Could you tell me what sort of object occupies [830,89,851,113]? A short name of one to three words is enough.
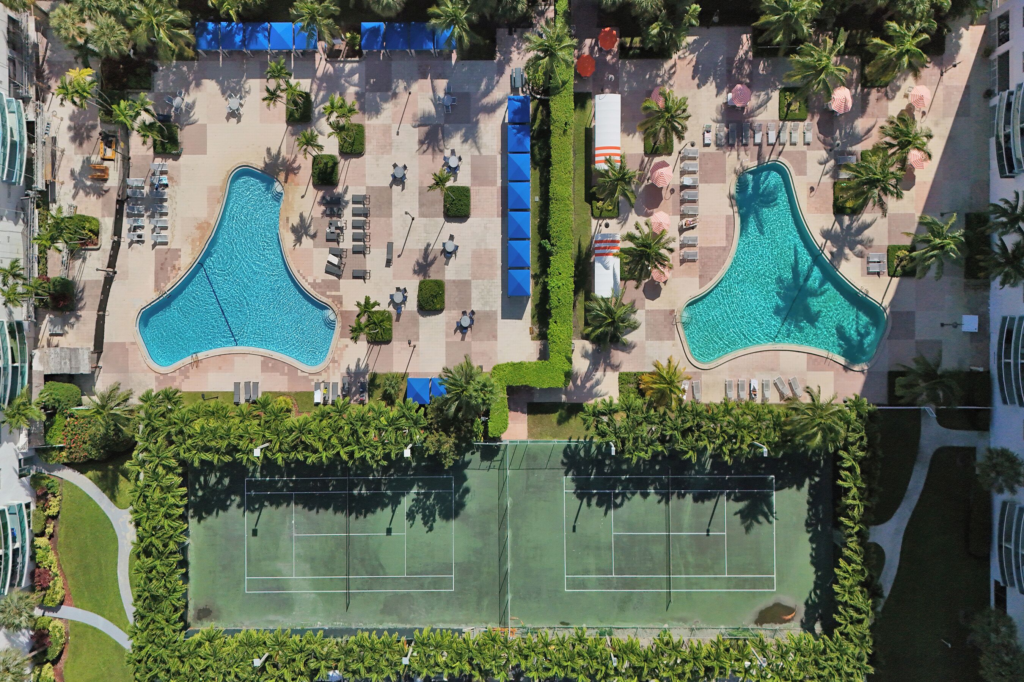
umbrella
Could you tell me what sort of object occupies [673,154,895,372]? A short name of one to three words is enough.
swimming pool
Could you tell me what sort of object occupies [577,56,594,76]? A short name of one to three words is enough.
umbrella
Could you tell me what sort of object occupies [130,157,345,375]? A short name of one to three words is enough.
swimming pool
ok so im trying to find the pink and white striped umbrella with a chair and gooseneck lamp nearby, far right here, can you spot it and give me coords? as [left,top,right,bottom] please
[907,85,929,109]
